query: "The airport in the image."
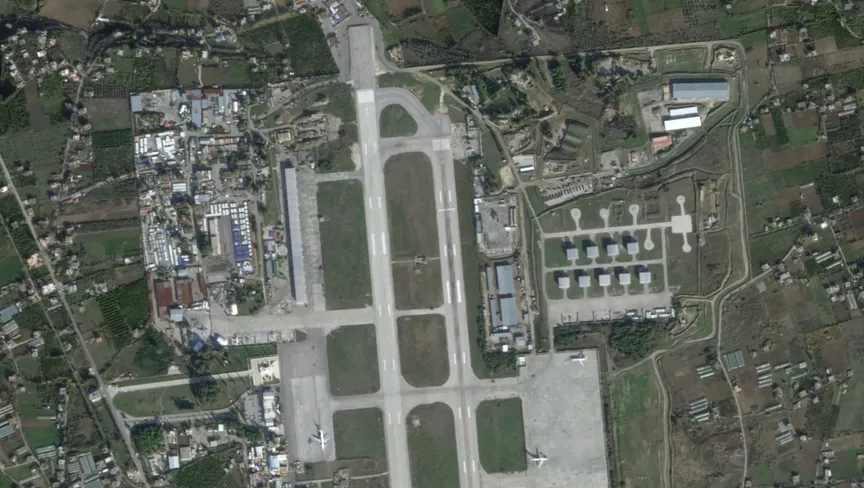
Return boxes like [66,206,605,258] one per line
[205,26,692,488]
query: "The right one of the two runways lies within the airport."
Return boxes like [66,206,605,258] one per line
[430,138,482,488]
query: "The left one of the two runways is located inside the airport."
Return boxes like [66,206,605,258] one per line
[354,89,411,488]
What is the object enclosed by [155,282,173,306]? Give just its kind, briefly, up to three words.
building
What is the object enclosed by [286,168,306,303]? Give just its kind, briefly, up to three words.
hangar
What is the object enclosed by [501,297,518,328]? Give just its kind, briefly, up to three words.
hangar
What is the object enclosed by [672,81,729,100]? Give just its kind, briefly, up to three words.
building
